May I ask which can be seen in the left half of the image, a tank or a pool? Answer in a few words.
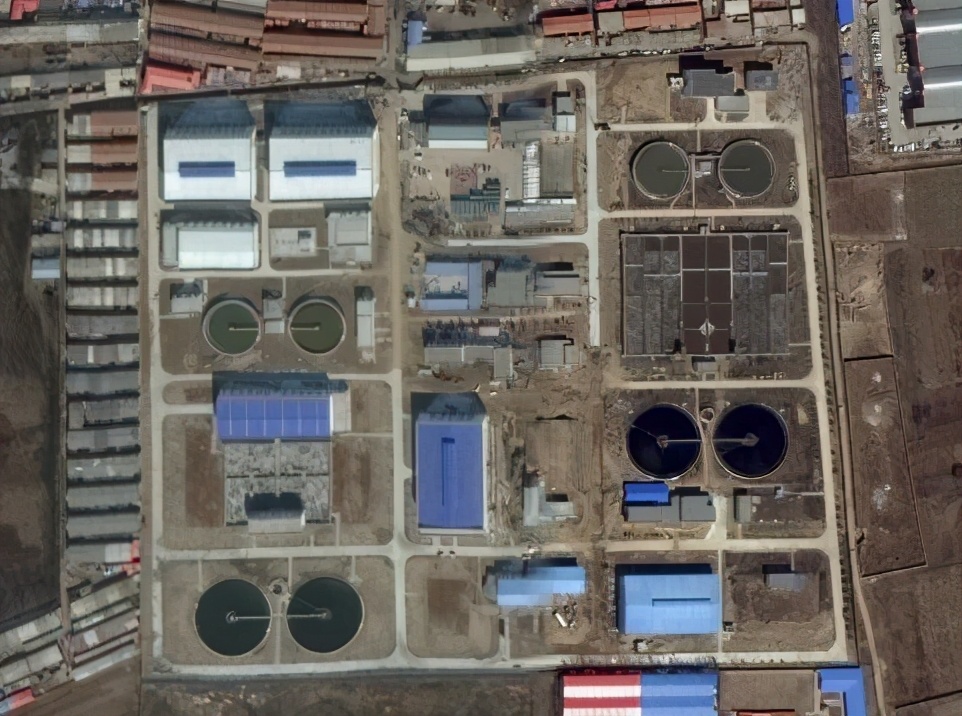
tank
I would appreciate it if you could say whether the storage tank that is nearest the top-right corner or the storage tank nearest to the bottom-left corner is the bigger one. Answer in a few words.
the storage tank nearest to the bottom-left corner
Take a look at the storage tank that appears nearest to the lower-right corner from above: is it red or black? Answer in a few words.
black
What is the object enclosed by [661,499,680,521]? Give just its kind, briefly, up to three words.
building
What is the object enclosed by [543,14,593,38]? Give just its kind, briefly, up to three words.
house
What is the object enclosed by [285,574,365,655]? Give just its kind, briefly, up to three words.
storage tank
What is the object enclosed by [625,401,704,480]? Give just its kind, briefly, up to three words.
storage tank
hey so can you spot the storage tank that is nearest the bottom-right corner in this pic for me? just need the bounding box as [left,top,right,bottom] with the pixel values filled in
[710,400,789,480]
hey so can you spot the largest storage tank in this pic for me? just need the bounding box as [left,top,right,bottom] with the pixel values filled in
[225,439,333,524]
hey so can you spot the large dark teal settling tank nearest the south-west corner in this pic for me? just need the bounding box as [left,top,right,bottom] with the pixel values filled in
[194,577,273,658]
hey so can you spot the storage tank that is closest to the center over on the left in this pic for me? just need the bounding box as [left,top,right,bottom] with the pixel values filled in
[287,298,347,355]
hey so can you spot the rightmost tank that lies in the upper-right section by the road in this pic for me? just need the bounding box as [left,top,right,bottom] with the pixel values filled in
[719,141,775,196]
